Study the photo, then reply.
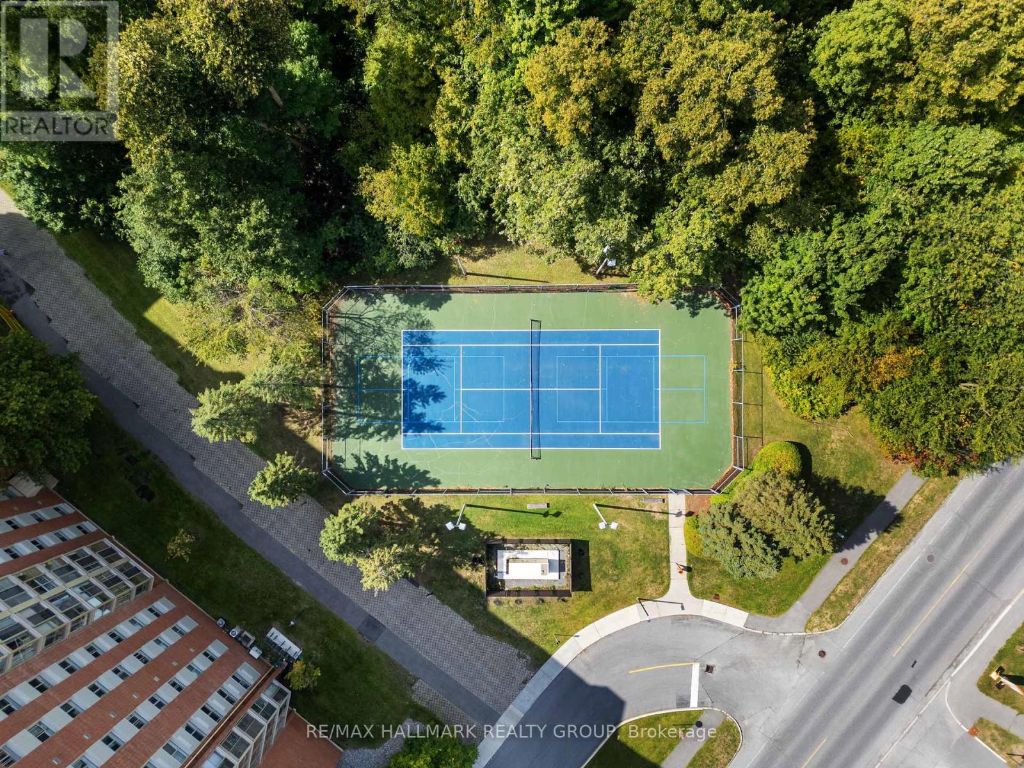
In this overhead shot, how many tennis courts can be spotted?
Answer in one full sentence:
In total, 1 tennis court can be seen.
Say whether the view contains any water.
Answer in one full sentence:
No, the picture contains no water.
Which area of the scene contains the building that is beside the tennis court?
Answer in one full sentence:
The building that is beside the tennis court is located in the bottom left region of the scene.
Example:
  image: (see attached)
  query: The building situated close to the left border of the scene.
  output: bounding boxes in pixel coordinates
[0,457,344,768]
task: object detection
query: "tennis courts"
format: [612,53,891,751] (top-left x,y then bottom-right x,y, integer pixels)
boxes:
[328,287,737,493]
